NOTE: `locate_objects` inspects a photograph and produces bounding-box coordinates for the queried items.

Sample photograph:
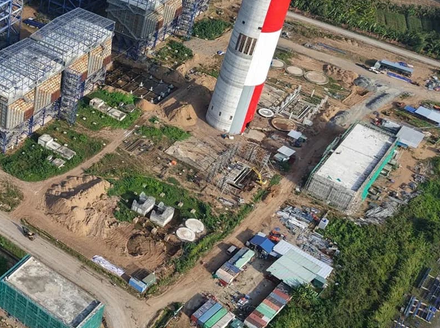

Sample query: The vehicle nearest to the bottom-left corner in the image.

[16,226,37,239]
